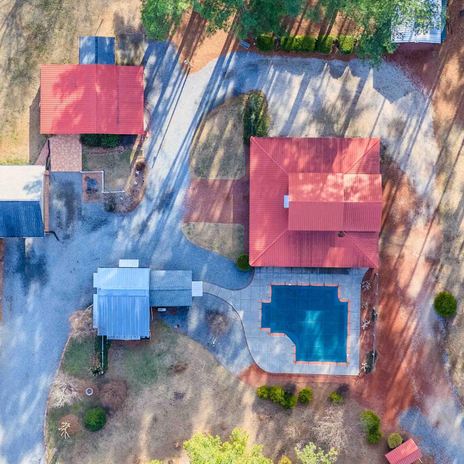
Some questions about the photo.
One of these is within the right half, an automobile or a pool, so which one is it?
pool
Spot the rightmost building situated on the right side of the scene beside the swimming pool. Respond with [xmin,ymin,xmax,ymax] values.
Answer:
[250,136,384,268]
